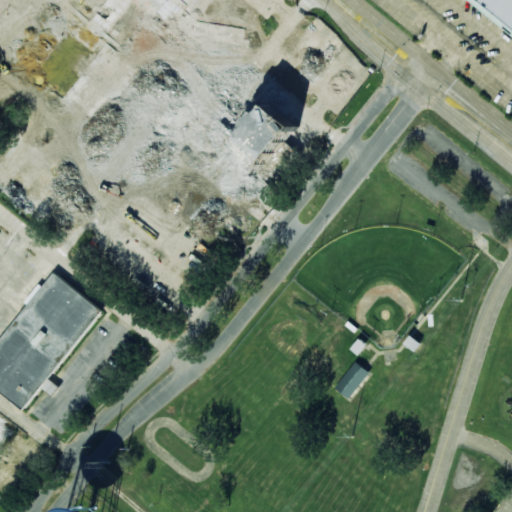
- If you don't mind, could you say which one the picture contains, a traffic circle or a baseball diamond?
baseball diamond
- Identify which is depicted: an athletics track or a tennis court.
athletics track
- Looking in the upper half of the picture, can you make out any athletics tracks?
No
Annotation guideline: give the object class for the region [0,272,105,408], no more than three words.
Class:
building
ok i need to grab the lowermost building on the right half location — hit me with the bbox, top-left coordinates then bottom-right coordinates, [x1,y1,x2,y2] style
[336,362,369,398]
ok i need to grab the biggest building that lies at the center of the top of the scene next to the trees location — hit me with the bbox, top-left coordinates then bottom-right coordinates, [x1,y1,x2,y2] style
[227,104,300,174]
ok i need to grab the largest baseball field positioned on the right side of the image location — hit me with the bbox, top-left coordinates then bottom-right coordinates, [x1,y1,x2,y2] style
[295,227,466,348]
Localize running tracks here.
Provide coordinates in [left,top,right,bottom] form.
[146,418,214,482]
